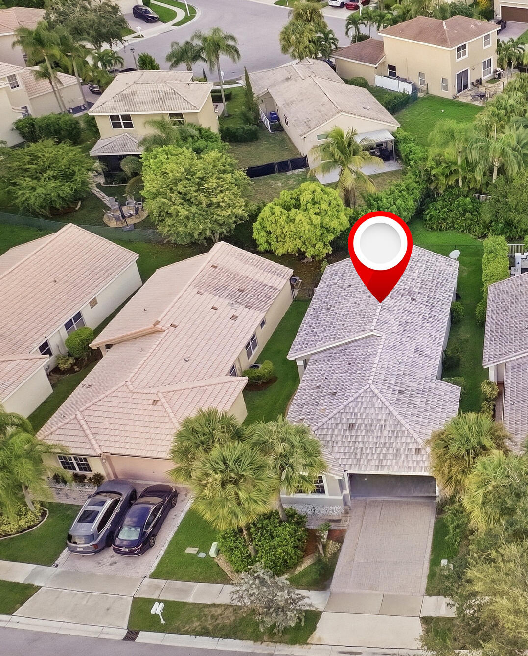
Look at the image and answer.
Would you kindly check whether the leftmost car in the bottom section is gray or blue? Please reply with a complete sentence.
From above, the leftmost car in the bottom section appears gray.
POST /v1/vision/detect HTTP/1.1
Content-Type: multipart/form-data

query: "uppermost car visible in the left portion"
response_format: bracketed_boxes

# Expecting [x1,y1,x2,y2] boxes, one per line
[135,8,159,23]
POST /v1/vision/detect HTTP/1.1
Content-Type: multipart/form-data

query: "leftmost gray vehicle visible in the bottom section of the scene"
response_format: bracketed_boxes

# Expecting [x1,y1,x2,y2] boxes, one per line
[61,480,133,550]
